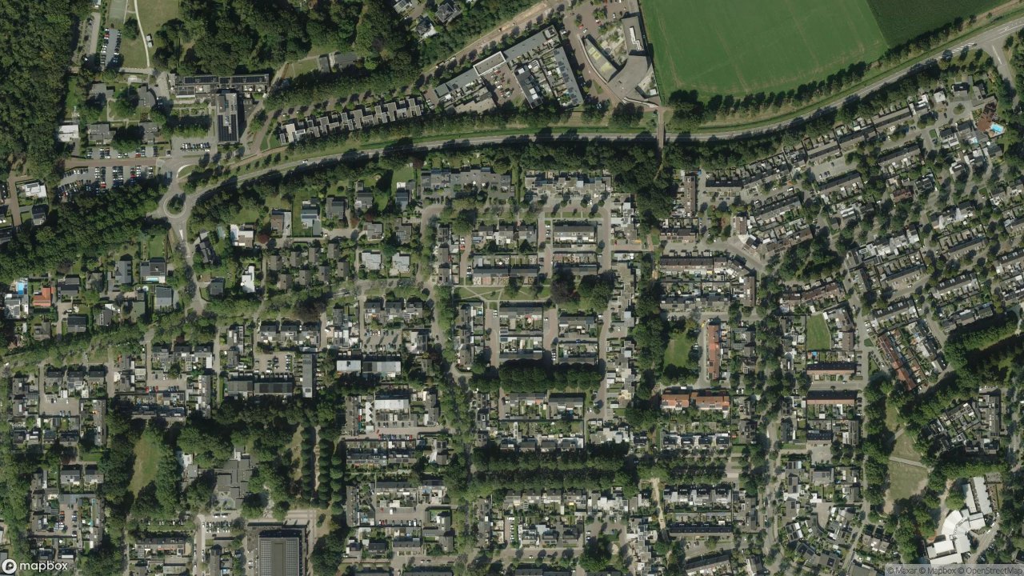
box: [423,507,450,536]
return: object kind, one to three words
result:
building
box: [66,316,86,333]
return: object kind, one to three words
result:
house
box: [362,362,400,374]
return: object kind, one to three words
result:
building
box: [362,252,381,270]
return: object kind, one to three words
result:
house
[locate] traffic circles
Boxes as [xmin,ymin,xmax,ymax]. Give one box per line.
[160,189,193,222]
